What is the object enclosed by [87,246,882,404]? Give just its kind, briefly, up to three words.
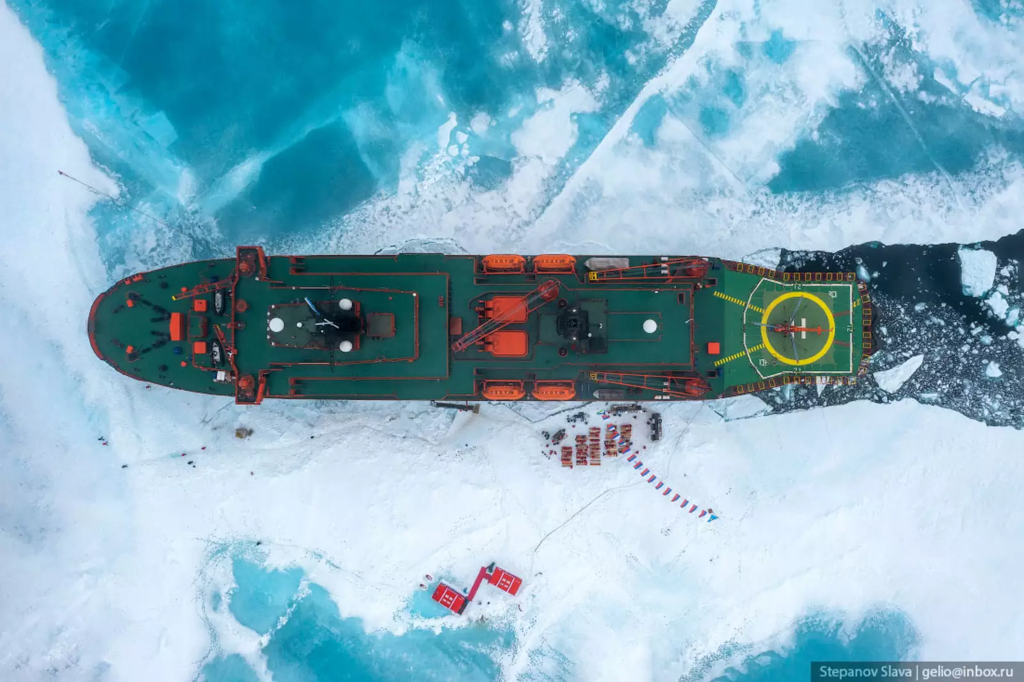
ship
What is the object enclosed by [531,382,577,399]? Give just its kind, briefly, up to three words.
boat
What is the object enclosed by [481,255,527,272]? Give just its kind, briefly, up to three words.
boat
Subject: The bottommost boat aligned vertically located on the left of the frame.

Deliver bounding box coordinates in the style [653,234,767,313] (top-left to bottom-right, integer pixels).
[211,339,223,367]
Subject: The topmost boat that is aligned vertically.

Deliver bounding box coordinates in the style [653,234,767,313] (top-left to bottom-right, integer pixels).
[213,288,225,315]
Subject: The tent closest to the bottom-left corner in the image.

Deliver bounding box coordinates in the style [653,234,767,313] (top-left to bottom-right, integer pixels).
[432,580,466,612]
